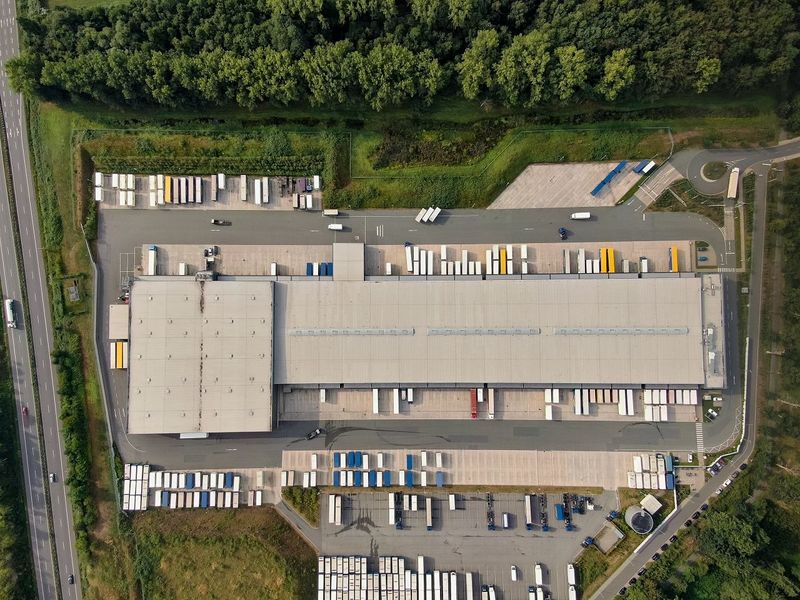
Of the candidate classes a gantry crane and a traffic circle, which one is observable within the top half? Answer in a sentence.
What appears within the top half is a traffic circle.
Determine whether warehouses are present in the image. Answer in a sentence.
Yes, the image includes a warehouse.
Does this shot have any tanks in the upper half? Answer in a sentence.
No, I see no tank in the upper half.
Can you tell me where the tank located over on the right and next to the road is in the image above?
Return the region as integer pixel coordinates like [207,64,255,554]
[623,505,654,534]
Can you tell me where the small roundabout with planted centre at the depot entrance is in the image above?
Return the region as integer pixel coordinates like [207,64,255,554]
[690,147,739,195]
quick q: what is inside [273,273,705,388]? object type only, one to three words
warehouse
